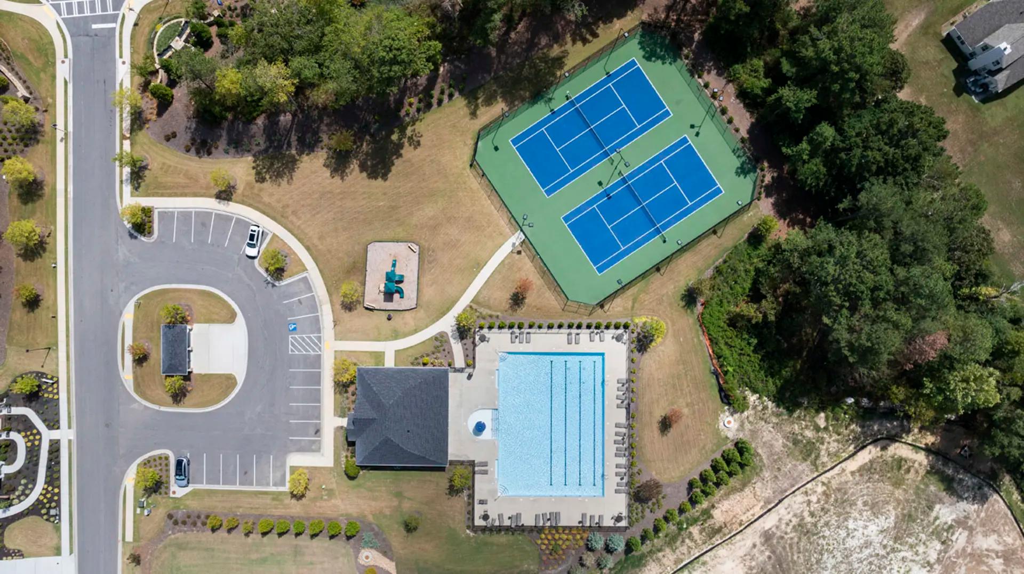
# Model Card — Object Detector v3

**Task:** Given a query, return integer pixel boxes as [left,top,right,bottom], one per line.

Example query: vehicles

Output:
[175,456,191,487]
[245,226,262,257]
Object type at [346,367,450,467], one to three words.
building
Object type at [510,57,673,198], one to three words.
tennis court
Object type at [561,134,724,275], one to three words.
tennis court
